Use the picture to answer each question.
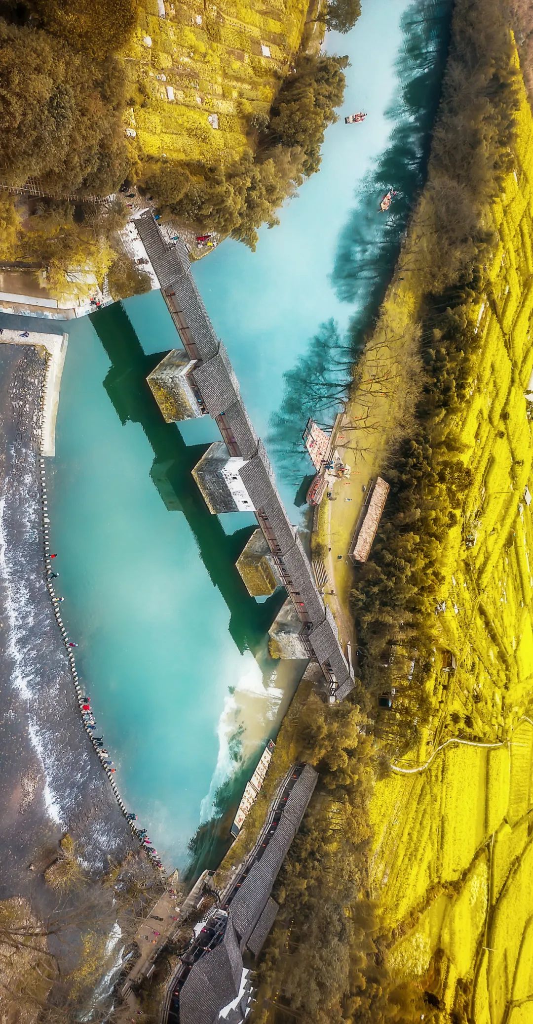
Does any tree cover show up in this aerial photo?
Yes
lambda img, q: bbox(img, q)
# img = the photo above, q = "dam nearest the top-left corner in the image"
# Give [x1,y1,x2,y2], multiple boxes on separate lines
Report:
[0,330,63,455]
